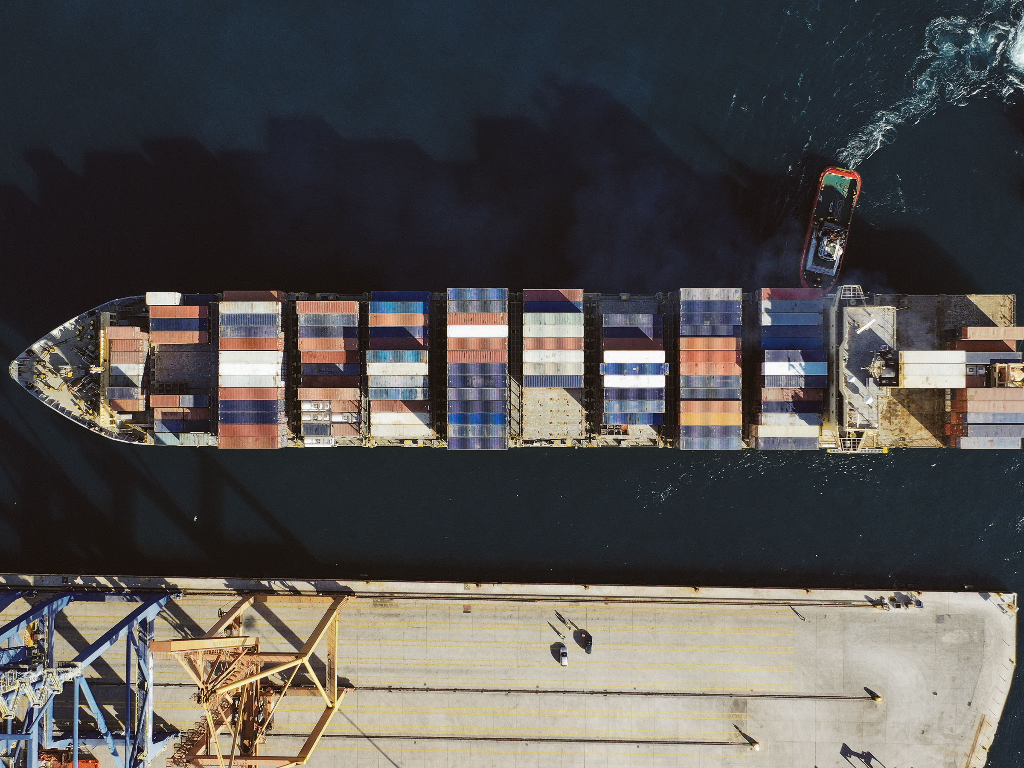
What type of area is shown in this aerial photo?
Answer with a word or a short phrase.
port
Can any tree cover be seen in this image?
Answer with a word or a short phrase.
No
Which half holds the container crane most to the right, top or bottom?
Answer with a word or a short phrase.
bottom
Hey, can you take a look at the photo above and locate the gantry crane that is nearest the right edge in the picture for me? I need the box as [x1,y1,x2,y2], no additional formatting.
[139,594,379,768]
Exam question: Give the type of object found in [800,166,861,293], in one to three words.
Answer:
boat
